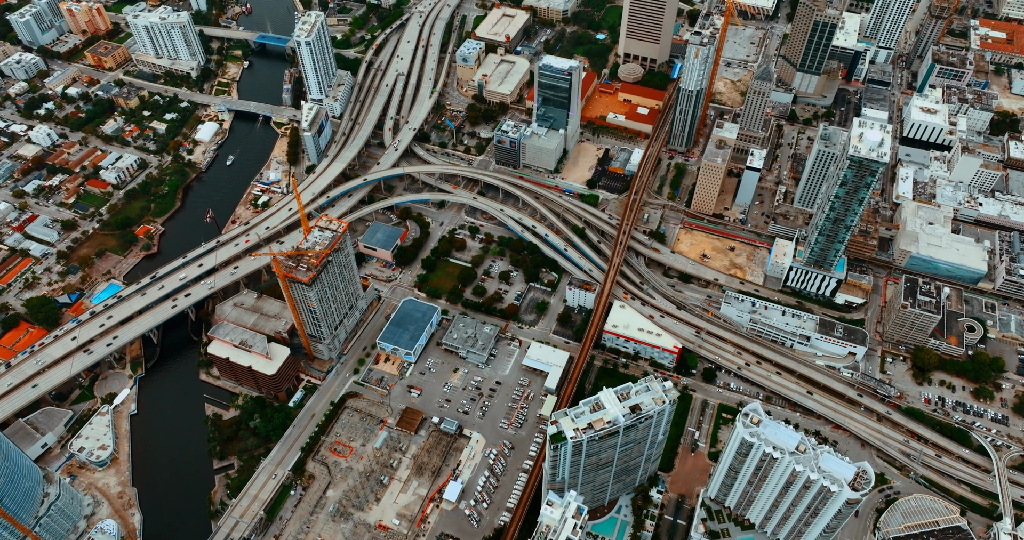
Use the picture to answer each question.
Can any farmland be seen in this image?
No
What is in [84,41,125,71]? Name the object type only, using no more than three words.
building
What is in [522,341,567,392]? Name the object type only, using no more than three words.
building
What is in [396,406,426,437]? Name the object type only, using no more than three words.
shed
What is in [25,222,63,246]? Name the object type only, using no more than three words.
house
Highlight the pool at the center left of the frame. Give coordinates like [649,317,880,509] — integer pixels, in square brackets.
[86,281,127,305]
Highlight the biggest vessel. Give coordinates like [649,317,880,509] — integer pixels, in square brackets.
[282,69,296,102]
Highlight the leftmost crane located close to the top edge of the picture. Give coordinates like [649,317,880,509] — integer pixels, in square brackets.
[695,0,757,145]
